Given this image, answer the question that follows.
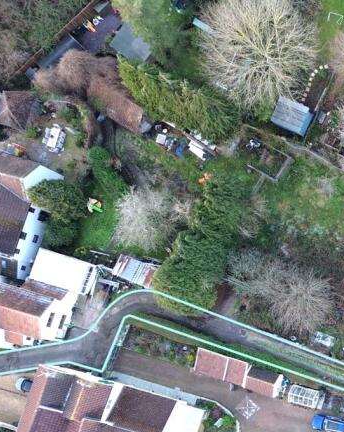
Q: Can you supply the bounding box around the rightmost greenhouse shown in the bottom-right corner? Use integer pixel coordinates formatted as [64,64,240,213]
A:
[287,383,323,410]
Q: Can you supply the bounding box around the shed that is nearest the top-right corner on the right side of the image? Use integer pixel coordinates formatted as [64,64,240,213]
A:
[269,96,313,136]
